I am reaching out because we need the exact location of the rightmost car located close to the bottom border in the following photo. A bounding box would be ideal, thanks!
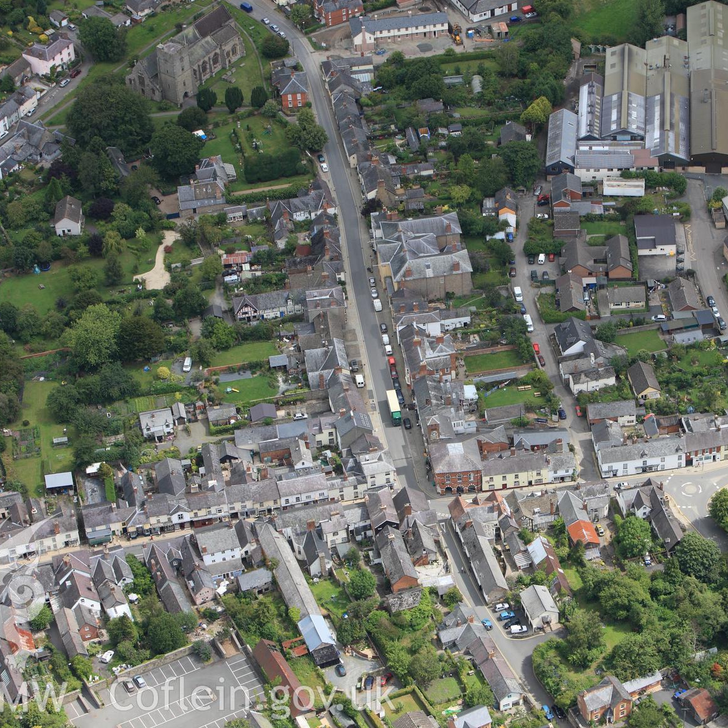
[672,687,688,700]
